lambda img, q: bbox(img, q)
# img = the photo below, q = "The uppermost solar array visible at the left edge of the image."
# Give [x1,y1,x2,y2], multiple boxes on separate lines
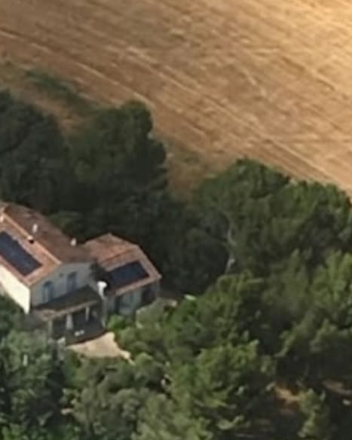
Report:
[0,229,41,274]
